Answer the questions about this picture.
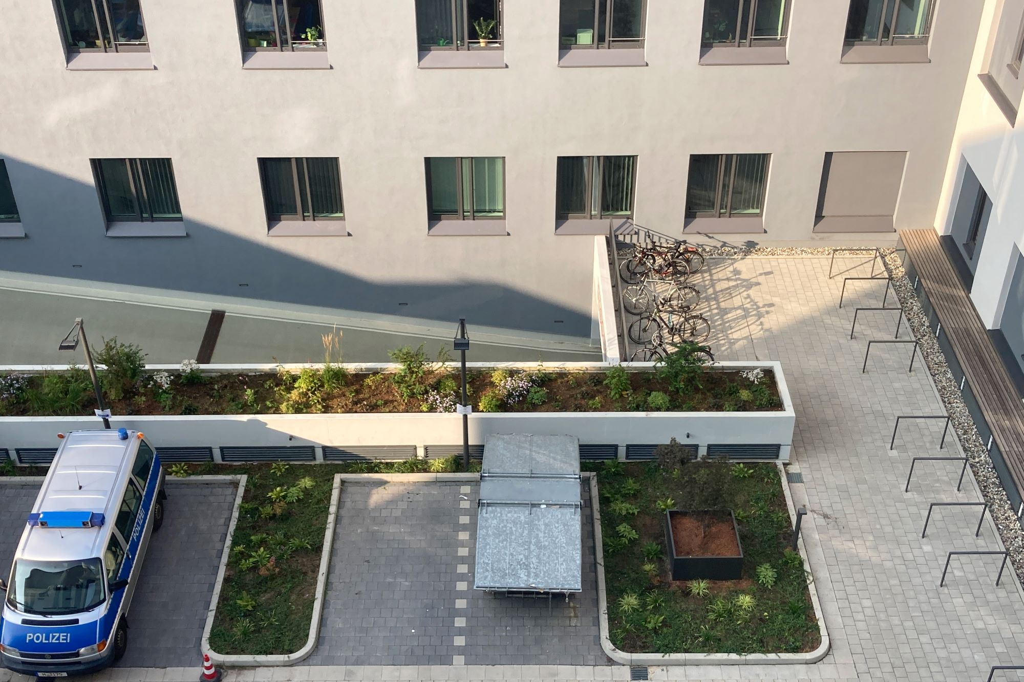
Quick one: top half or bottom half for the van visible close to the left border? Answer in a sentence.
The bottom half of the photo is where the van visible close to the left border is.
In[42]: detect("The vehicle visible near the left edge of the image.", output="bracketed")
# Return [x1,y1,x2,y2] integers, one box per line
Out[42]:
[0,429,170,680]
